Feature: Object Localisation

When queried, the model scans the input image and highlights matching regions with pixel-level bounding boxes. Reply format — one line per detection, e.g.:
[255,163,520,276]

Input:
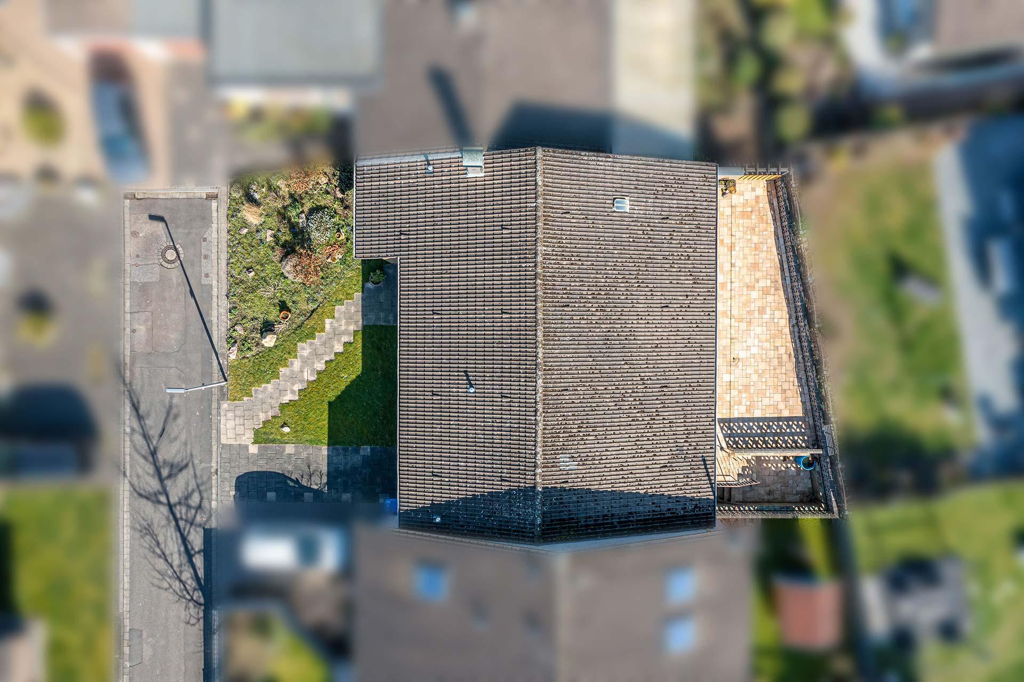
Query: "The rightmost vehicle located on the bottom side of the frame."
[240,525,349,576]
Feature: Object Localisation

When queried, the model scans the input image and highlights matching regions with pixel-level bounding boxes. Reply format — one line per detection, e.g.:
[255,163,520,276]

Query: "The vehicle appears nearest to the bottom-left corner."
[0,438,95,487]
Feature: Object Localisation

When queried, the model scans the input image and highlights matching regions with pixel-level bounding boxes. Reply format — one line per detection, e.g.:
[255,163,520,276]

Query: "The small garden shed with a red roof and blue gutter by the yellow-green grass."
[765,570,840,647]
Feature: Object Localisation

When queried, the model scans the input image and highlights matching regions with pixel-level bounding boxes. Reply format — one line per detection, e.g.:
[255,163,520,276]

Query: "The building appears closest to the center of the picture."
[354,148,726,543]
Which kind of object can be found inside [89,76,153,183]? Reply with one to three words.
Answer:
car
